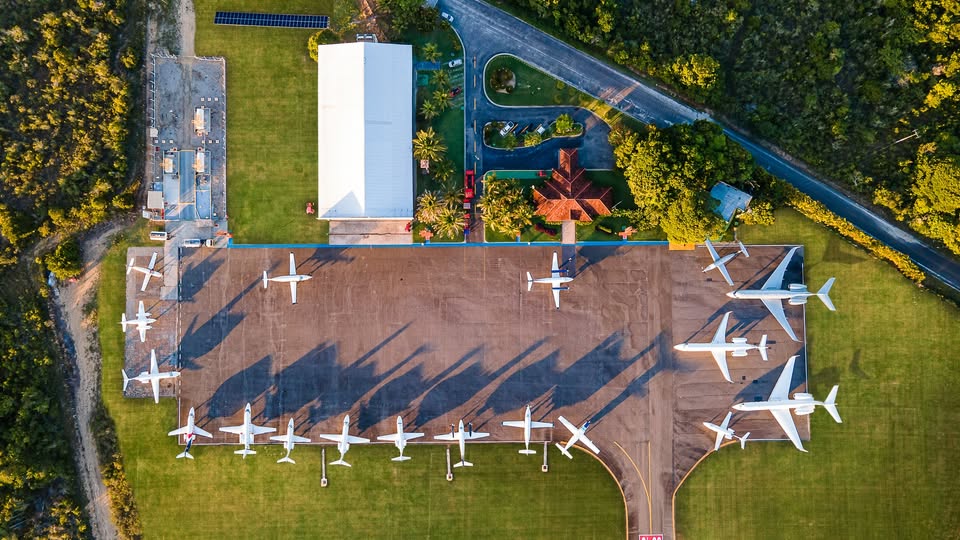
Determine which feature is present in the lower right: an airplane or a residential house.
airplane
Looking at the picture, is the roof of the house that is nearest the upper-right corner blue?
Yes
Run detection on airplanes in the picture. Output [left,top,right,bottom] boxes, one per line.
[220,404,278,459]
[674,310,765,382]
[502,405,555,456]
[263,252,313,305]
[269,419,311,464]
[731,352,841,453]
[704,412,750,451]
[121,301,156,342]
[727,246,834,343]
[433,421,491,470]
[700,239,750,286]
[122,349,181,403]
[557,414,599,456]
[319,415,368,471]
[128,251,163,292]
[378,416,425,461]
[528,252,573,309]
[169,408,214,458]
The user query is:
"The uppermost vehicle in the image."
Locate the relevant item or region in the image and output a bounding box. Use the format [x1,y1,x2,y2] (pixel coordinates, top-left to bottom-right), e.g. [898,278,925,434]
[441,10,456,23]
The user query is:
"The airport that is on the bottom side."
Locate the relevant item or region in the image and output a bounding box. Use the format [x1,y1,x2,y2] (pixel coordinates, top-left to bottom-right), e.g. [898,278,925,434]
[125,219,810,540]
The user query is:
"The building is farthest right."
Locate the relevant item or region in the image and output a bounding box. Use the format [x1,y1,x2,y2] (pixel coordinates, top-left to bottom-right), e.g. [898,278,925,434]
[704,182,752,222]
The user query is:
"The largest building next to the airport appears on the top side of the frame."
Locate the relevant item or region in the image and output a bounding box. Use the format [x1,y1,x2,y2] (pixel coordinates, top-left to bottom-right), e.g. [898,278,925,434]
[313,40,415,219]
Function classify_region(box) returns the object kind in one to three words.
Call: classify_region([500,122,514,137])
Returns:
car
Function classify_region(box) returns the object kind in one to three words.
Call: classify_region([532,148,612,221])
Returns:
building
